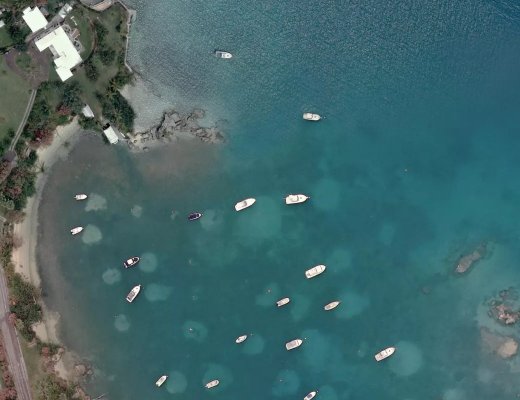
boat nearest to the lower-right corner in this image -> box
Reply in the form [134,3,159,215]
[374,348,395,362]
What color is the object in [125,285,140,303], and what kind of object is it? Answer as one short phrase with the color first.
white boat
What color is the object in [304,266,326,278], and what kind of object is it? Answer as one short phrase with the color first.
white boat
